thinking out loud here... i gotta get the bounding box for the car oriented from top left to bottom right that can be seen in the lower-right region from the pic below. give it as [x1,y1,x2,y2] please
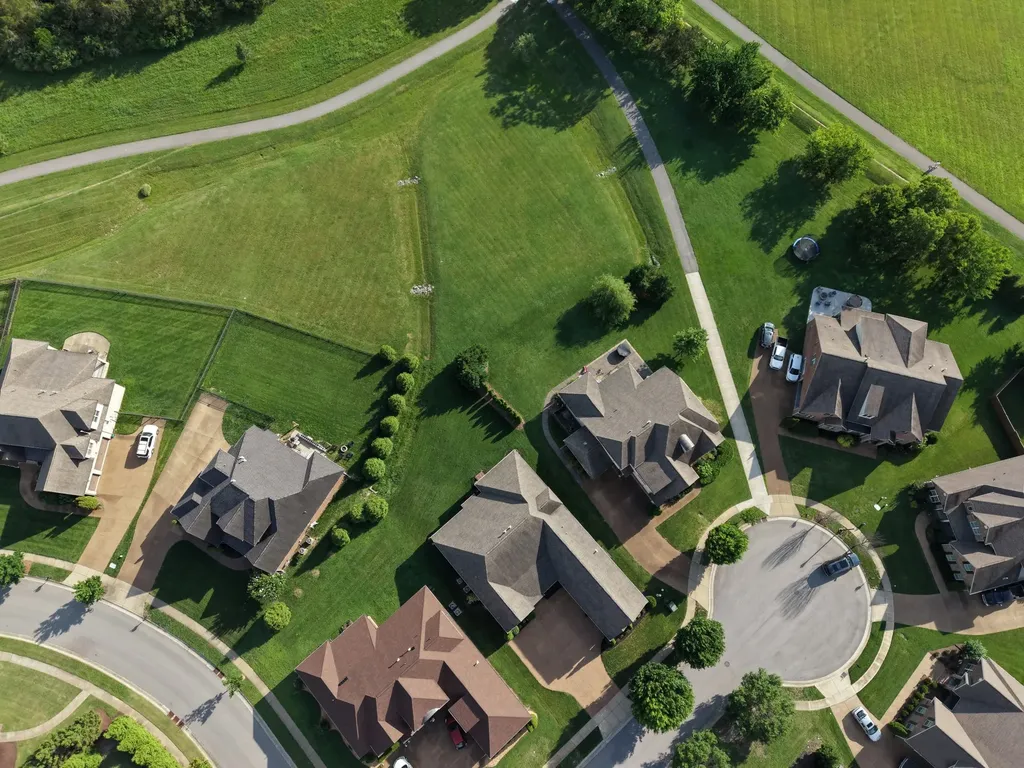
[849,704,881,743]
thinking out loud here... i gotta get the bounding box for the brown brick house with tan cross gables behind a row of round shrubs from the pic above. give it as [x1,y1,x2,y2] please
[898,658,1024,768]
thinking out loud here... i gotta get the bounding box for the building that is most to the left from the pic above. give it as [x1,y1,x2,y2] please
[0,338,126,496]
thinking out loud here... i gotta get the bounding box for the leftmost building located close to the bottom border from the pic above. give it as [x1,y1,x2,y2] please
[295,585,532,759]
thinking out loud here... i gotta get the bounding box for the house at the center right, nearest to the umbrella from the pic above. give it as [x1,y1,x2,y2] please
[794,310,963,449]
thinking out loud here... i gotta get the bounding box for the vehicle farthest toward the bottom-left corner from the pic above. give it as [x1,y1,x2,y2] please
[136,425,159,461]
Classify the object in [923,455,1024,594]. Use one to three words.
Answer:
house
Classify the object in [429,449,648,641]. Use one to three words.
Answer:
house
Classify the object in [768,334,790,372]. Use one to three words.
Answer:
truck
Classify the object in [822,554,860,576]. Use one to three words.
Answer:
car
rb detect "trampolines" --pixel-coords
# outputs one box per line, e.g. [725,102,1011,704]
[792,236,820,261]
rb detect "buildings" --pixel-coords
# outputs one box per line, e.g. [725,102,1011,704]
[429,449,648,641]
[923,455,1024,594]
[898,658,1024,768]
[170,425,346,573]
[794,310,963,449]
[295,585,532,759]
[0,338,126,496]
[559,362,725,507]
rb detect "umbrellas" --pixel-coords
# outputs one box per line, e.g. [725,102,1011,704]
[843,294,861,311]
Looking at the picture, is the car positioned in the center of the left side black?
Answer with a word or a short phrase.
No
